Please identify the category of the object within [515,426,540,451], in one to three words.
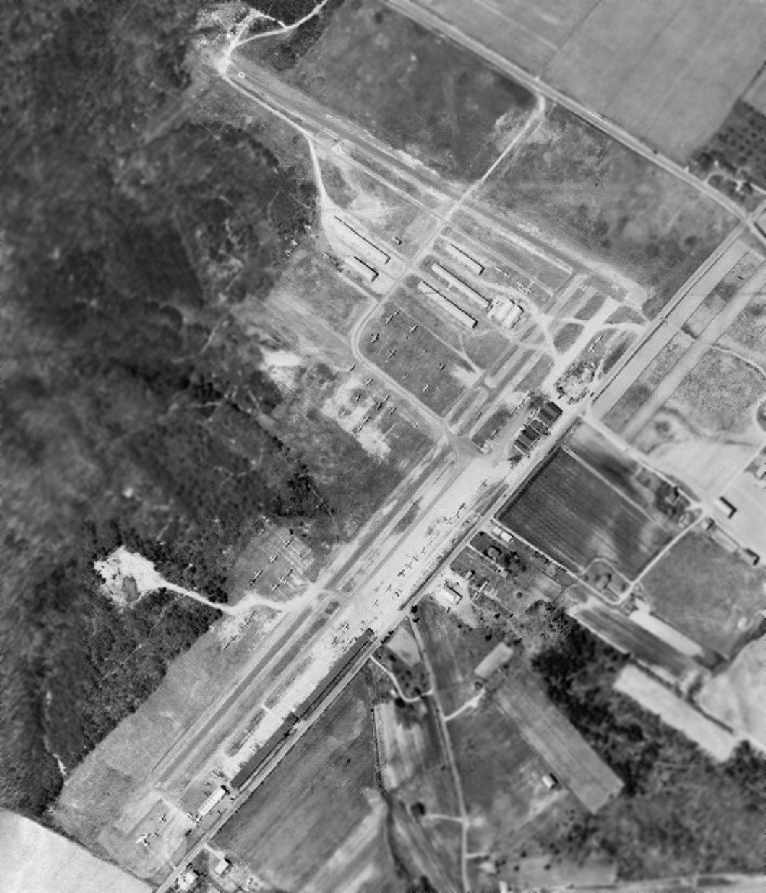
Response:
hangar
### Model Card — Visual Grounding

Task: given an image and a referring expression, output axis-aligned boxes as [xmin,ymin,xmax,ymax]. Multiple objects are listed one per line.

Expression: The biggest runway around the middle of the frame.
[150,266,622,798]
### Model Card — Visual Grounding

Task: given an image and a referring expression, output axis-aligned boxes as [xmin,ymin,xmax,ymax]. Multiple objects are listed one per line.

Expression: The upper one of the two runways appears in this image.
[229,51,650,309]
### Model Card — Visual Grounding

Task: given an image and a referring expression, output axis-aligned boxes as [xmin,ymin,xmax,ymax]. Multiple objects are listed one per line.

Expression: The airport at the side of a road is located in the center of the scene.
[120,51,650,868]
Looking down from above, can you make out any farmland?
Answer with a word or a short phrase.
Yes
